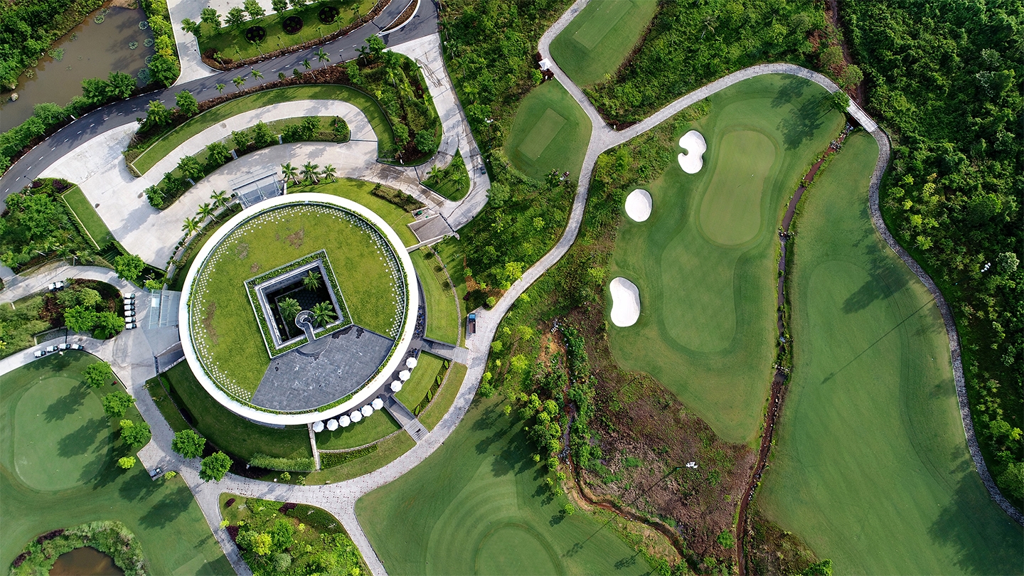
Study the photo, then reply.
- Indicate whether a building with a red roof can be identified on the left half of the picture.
No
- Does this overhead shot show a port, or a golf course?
golf course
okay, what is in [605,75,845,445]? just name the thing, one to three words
golf course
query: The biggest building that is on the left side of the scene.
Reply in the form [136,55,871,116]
[148,165,429,431]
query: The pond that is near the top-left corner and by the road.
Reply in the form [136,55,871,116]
[0,7,155,146]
